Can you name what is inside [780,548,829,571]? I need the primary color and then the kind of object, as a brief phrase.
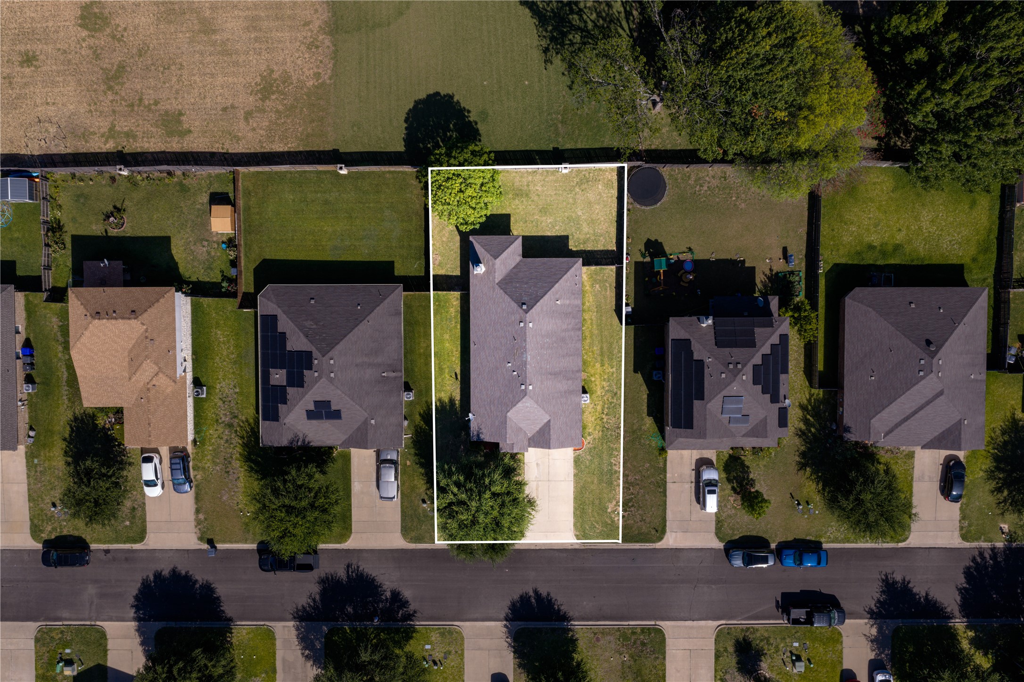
blue car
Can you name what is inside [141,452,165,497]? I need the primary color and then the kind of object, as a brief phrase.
white car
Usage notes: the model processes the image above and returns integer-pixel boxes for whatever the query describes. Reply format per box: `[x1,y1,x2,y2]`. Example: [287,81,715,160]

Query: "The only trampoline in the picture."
[628,165,669,206]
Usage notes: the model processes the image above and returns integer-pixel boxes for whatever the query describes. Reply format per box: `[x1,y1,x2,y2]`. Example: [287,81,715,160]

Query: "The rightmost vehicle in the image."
[943,457,969,500]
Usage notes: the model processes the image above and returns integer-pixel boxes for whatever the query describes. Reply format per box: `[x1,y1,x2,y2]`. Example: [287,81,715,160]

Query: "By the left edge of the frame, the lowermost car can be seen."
[38,547,90,571]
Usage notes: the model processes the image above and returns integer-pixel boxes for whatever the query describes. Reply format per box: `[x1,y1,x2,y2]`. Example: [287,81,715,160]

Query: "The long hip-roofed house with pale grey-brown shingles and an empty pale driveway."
[467,235,582,453]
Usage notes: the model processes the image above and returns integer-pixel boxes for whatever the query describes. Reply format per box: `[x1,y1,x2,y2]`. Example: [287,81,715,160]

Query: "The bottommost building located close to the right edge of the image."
[837,286,988,451]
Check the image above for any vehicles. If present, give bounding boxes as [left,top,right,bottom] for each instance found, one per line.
[378,449,400,502]
[697,463,720,510]
[255,550,318,575]
[169,452,193,495]
[141,452,165,497]
[789,604,849,629]
[780,548,829,571]
[38,547,90,571]
[728,548,776,571]
[943,457,969,500]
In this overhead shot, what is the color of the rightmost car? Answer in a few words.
black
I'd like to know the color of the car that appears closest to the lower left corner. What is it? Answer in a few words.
black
